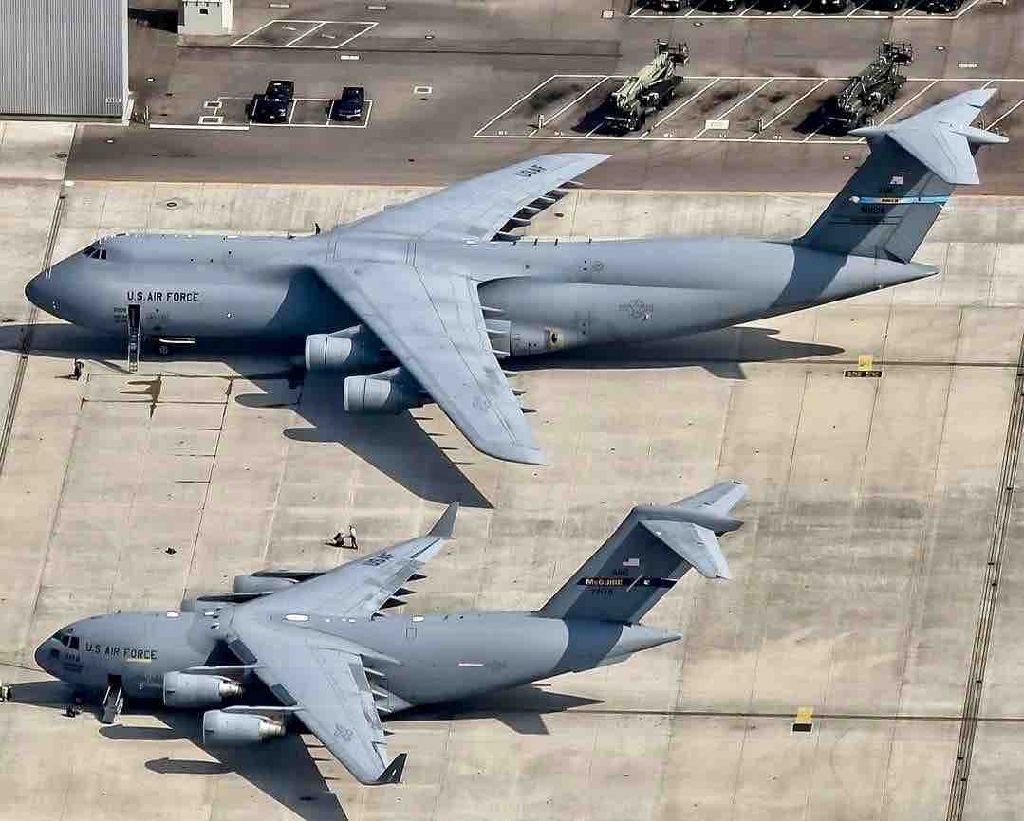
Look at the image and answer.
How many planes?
two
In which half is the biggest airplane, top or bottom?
top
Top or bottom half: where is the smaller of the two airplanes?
bottom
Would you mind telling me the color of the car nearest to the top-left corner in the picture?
black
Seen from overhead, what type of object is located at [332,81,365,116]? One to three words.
car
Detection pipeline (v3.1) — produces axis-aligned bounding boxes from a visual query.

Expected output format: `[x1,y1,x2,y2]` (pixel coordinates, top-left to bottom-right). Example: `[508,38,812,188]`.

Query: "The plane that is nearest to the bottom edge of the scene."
[34,483,748,781]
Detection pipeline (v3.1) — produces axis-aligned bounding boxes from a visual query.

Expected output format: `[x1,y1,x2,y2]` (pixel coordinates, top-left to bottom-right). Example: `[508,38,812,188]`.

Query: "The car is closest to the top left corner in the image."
[260,75,297,117]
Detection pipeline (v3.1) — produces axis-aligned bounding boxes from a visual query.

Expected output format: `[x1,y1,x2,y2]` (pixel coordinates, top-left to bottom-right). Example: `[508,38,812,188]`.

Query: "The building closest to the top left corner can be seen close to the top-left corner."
[0,0,141,122]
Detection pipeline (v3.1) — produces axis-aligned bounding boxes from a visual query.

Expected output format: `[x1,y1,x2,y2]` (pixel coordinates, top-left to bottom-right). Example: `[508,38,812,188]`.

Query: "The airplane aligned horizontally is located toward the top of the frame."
[24,87,1009,466]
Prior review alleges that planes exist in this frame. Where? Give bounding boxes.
[24,87,1009,466]
[34,483,748,781]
